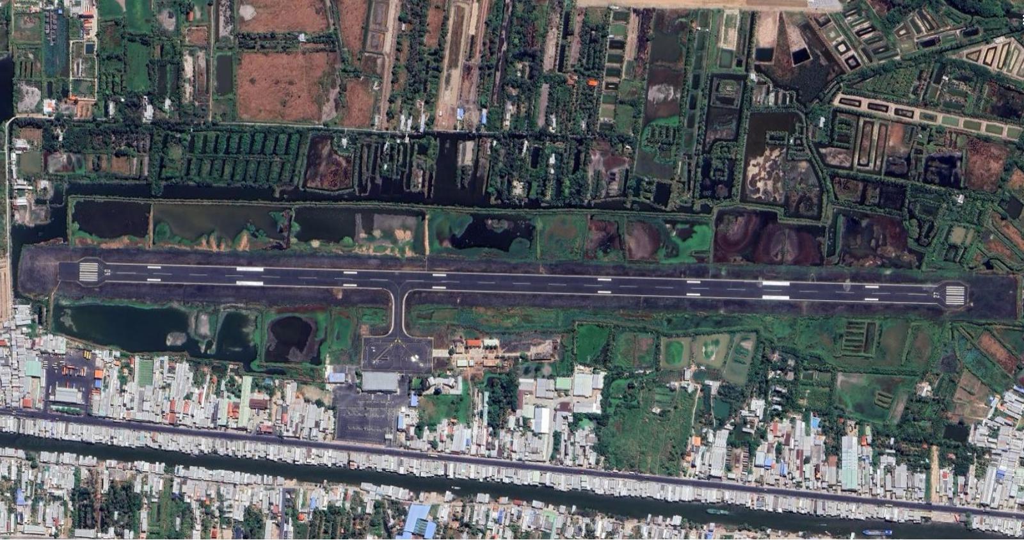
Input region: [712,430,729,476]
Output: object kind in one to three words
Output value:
building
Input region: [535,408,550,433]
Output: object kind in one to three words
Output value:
building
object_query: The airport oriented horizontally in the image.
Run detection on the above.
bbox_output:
[19,246,1019,371]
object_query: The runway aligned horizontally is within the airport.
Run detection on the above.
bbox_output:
[59,257,968,310]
